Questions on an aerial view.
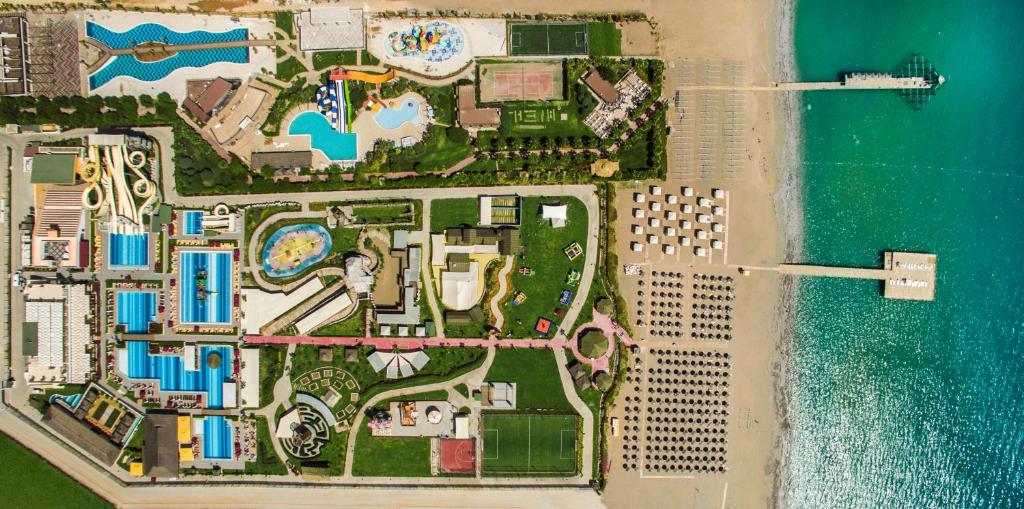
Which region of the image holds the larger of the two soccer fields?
bottom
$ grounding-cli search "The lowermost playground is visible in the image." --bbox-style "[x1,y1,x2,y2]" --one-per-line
[400,401,418,426]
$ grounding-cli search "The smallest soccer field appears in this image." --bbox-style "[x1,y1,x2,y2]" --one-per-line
[508,20,589,56]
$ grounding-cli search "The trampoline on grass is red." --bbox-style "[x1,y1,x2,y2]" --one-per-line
[534,317,552,335]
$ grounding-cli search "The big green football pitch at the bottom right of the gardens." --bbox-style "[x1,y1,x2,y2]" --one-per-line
[480,413,580,477]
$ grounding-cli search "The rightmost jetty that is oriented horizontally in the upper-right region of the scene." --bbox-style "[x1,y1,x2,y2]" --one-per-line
[762,73,931,91]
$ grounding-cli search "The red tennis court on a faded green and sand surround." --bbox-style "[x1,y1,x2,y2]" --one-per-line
[480,61,564,101]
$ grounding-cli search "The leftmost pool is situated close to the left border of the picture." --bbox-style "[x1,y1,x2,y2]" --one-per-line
[49,393,83,410]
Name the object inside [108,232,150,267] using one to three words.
swimming pool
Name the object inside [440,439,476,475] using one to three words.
basketball court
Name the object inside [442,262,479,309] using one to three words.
building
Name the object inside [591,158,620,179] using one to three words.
gazebo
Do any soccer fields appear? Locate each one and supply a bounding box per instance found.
[480,413,580,477]
[508,20,589,56]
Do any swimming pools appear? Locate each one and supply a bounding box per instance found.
[184,210,206,237]
[262,223,333,278]
[178,250,234,325]
[286,109,359,162]
[372,96,422,131]
[108,232,150,267]
[84,18,249,50]
[116,290,158,334]
[121,419,140,445]
[49,393,83,410]
[193,414,233,460]
[117,340,232,409]
[88,46,249,92]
